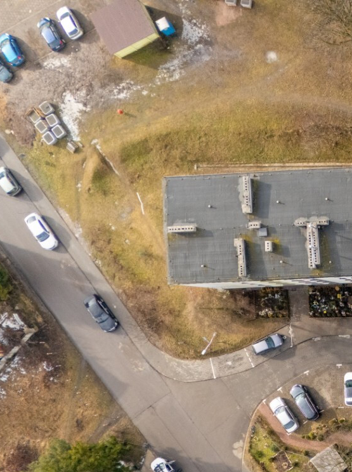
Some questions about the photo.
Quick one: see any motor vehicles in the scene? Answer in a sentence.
Yes, the frame does contain a motor vehicle.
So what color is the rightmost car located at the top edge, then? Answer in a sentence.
In this view, the rightmost car located at the top edge is white.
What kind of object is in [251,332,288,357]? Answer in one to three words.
car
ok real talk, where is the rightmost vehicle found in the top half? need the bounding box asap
[57,4,84,43]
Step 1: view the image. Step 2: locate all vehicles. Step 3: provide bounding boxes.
[251,332,288,357]
[0,56,14,84]
[0,164,24,197]
[0,32,25,68]
[23,212,61,250]
[57,4,84,43]
[342,370,352,407]
[38,15,67,54]
[268,397,302,434]
[83,295,120,332]
[291,383,320,422]
[150,455,176,472]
